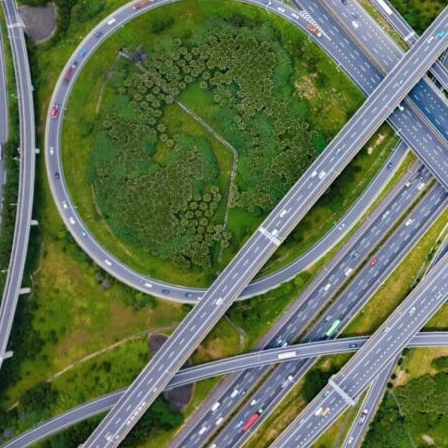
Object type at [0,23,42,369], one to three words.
bridge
